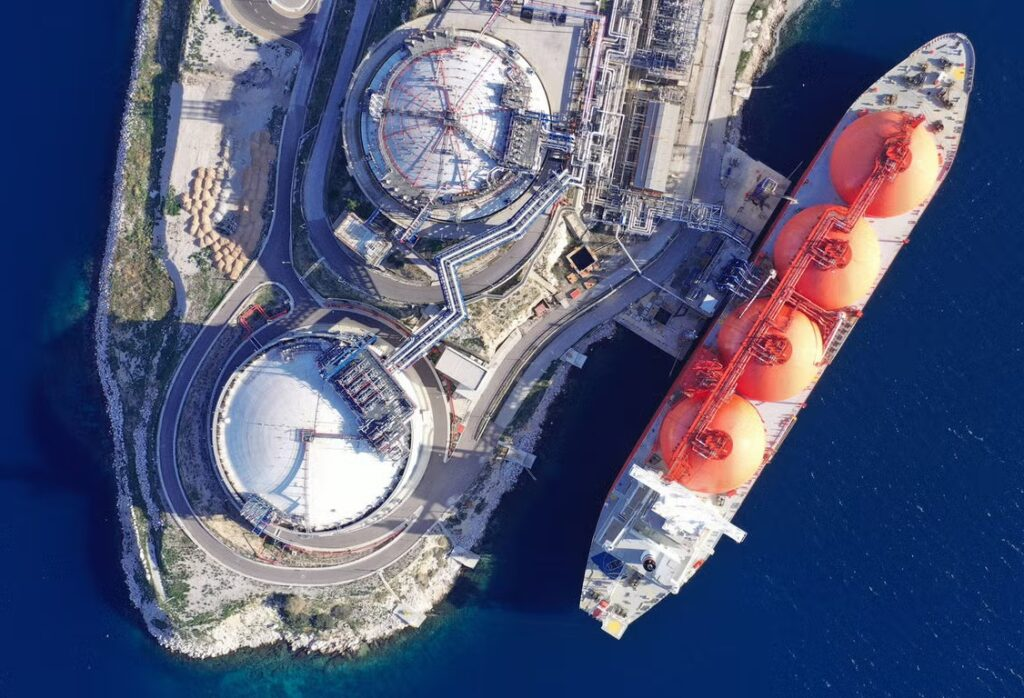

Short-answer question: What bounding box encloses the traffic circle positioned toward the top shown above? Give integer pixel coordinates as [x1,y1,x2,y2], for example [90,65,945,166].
[226,0,351,56]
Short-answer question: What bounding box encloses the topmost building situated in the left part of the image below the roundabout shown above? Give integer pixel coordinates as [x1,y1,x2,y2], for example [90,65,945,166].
[332,211,394,266]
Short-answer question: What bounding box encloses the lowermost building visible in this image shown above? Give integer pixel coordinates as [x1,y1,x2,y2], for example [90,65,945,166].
[434,345,489,391]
